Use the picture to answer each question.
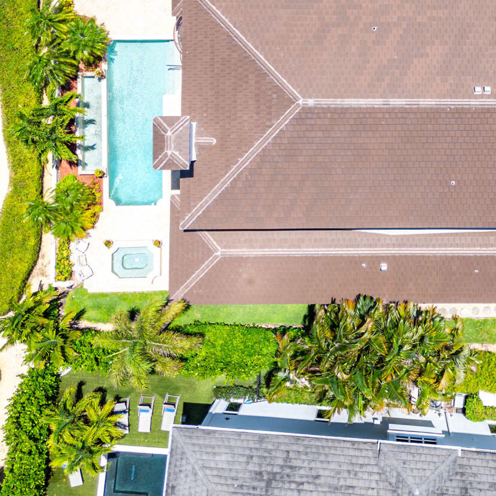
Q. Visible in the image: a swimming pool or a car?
swimming pool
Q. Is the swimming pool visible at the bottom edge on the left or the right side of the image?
left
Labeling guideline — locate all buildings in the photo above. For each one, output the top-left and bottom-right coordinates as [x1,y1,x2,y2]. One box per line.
[164,399,496,496]
[151,0,496,306]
